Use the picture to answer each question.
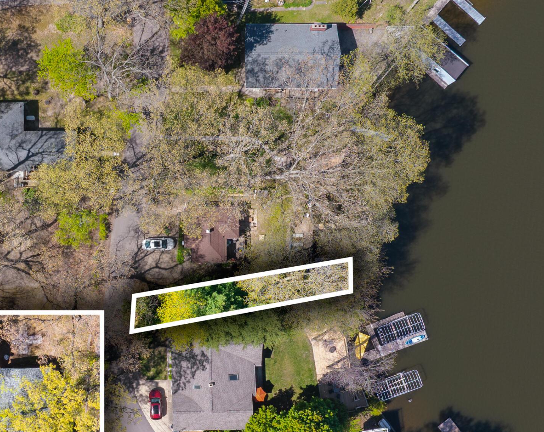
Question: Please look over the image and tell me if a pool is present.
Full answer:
No, there's no pool here.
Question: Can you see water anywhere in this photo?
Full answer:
Yes, water can be seen from above here.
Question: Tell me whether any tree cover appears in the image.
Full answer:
Yes, some tree cover is visible.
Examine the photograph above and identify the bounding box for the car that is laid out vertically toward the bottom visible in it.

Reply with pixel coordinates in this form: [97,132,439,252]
[148,387,164,420]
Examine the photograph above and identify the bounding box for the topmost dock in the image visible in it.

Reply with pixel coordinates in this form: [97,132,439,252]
[453,0,487,27]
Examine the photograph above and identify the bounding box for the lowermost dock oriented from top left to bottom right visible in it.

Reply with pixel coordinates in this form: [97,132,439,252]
[435,17,465,48]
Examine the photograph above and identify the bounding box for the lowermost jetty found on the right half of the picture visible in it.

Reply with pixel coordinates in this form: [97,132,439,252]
[362,322,428,361]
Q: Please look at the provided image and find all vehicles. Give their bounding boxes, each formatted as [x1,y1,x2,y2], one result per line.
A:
[148,387,164,420]
[141,236,175,253]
